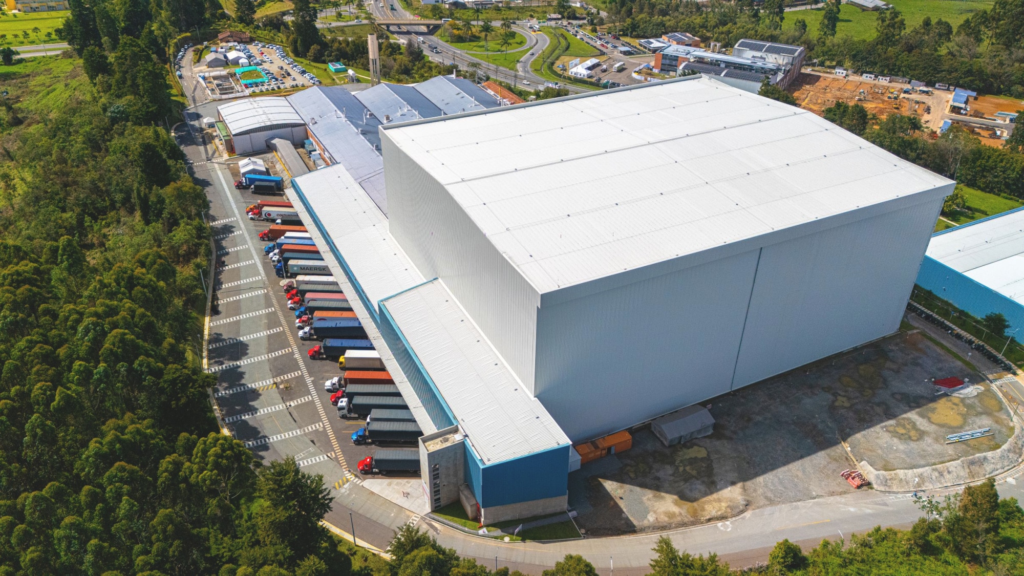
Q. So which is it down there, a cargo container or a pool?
cargo container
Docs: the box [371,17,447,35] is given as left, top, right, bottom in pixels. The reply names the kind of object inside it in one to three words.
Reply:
overpass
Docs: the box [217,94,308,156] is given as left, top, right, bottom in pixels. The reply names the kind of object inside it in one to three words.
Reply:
building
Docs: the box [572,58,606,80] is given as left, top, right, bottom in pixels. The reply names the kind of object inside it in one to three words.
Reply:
tent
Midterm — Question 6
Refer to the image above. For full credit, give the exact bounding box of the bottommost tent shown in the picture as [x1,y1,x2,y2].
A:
[652,406,716,446]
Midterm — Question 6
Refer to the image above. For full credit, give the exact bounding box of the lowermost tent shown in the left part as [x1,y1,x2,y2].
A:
[234,156,269,179]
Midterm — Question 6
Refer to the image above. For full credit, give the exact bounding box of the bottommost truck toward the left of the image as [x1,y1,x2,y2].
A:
[353,450,422,474]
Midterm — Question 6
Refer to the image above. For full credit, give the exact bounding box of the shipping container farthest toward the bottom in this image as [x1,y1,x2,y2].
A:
[578,431,633,463]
